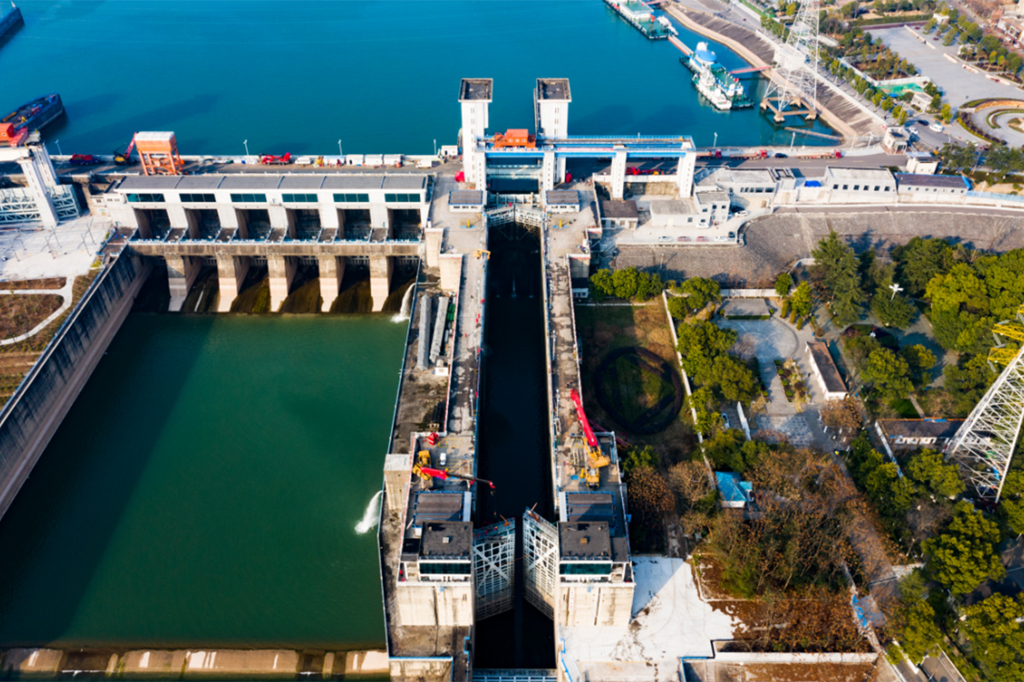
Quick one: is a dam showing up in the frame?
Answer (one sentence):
Yes, you can see a dam in this photo.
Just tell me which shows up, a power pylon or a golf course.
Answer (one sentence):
Of the two, only a power pylon appears.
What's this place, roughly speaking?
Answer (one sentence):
This looks like a port.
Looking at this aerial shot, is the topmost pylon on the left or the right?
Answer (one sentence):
The topmost pylon appears in the right half of the scene.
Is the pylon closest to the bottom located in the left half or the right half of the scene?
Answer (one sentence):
The pylon closest to the bottom is on the right side of the image.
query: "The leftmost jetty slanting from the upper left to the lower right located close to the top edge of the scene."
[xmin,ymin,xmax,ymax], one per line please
[598,0,671,43]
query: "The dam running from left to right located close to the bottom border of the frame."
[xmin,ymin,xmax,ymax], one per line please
[0,645,390,673]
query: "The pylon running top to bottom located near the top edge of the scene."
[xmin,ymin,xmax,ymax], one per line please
[759,0,817,125]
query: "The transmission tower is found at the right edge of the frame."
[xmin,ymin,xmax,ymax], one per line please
[943,309,1024,505]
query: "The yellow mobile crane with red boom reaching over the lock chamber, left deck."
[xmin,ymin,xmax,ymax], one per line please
[407,442,493,494]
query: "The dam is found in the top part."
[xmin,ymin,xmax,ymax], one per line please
[102,172,436,313]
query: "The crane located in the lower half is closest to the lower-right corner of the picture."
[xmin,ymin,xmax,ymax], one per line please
[572,387,609,482]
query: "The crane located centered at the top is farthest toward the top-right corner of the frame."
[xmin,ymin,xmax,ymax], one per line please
[492,124,535,151]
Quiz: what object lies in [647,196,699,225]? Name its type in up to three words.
shed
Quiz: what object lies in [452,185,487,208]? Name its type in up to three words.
house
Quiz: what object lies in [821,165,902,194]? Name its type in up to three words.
building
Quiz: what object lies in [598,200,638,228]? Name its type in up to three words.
house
